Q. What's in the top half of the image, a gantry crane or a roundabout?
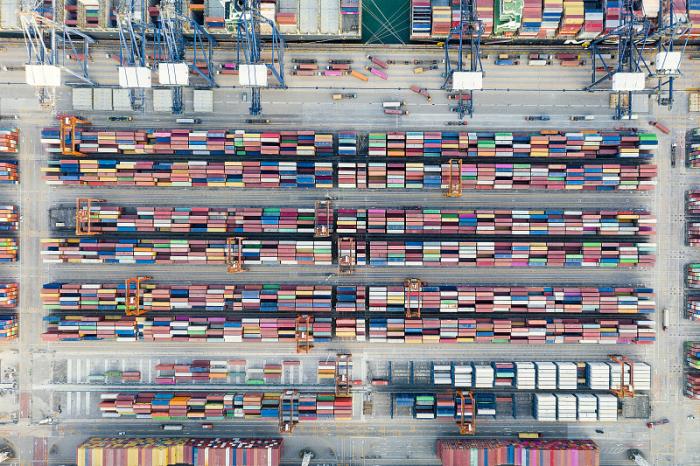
gantry crane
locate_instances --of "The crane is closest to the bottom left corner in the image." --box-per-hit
[125,275,154,316]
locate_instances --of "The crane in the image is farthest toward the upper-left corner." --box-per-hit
[18,0,101,112]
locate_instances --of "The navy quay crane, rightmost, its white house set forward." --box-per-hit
[624,0,698,118]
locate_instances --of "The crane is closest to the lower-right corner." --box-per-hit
[600,351,632,396]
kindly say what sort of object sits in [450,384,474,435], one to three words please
container crane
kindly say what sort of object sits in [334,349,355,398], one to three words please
container crane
